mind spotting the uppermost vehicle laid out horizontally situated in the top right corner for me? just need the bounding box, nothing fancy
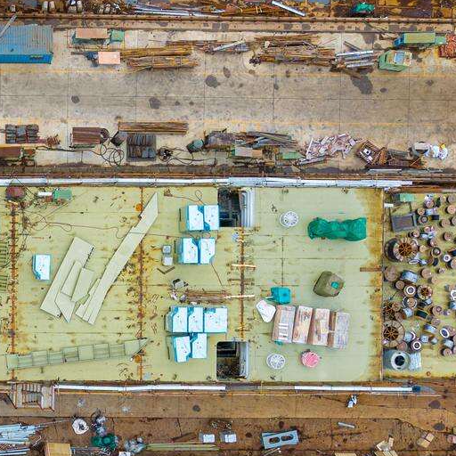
[388,29,435,51]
